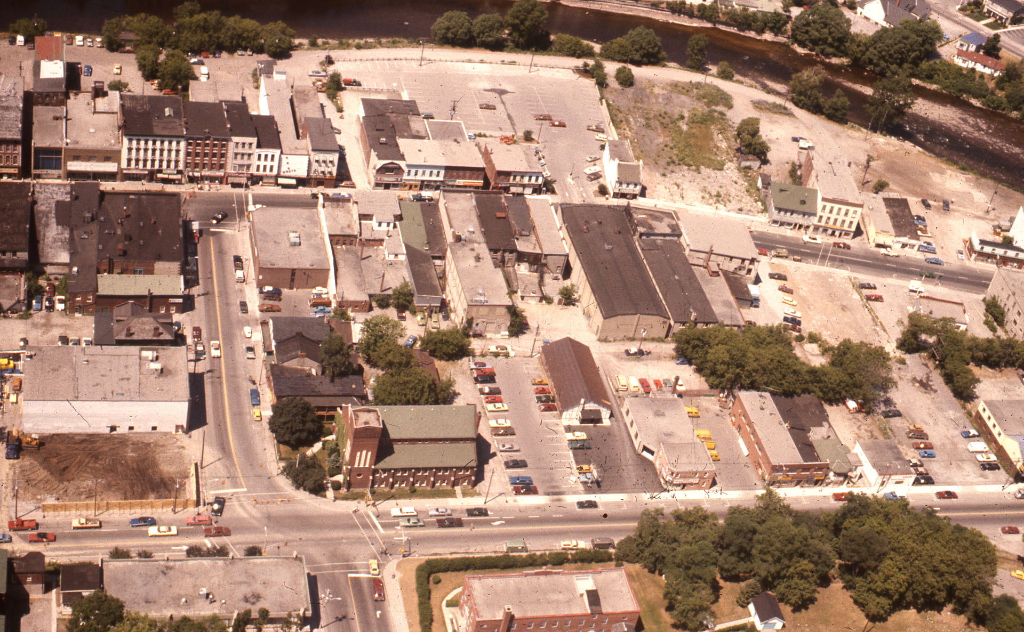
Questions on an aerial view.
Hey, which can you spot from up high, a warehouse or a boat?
warehouse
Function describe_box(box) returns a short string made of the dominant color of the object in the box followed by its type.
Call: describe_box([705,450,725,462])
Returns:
yellow vehicle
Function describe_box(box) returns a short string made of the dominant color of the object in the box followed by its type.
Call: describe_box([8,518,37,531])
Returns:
red vehicle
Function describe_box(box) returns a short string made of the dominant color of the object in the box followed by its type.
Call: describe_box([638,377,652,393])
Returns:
red car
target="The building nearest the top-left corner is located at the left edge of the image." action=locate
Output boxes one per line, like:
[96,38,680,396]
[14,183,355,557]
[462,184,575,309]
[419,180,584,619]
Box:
[33,35,65,105]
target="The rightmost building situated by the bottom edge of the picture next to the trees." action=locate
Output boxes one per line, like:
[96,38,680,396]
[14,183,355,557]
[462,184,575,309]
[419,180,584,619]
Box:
[750,592,786,630]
